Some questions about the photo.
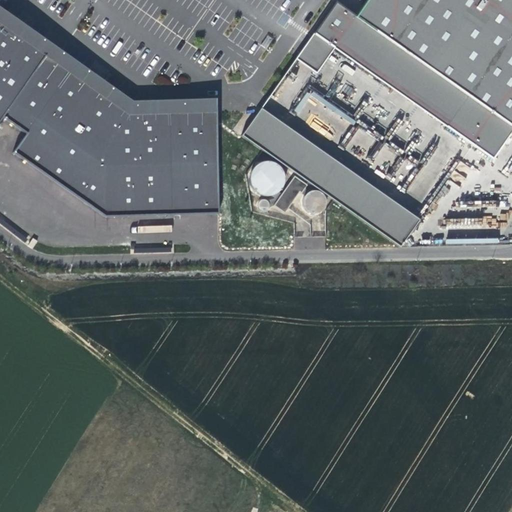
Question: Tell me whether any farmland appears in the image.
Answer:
Yes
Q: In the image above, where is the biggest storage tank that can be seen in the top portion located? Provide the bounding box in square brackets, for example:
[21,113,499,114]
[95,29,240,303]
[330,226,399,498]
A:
[251,160,286,196]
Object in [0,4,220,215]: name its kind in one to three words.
building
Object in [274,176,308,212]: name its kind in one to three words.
building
